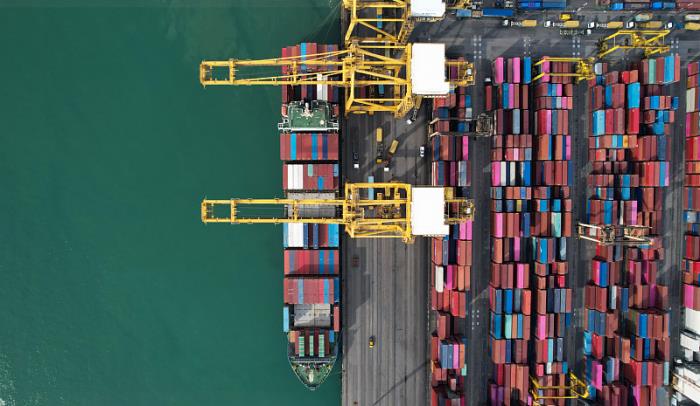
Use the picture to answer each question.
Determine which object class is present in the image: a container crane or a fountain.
container crane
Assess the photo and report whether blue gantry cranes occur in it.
No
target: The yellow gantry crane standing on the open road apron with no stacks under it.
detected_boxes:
[594,27,669,59]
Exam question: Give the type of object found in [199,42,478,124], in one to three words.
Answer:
container crane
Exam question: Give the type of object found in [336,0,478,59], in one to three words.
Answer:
container crane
